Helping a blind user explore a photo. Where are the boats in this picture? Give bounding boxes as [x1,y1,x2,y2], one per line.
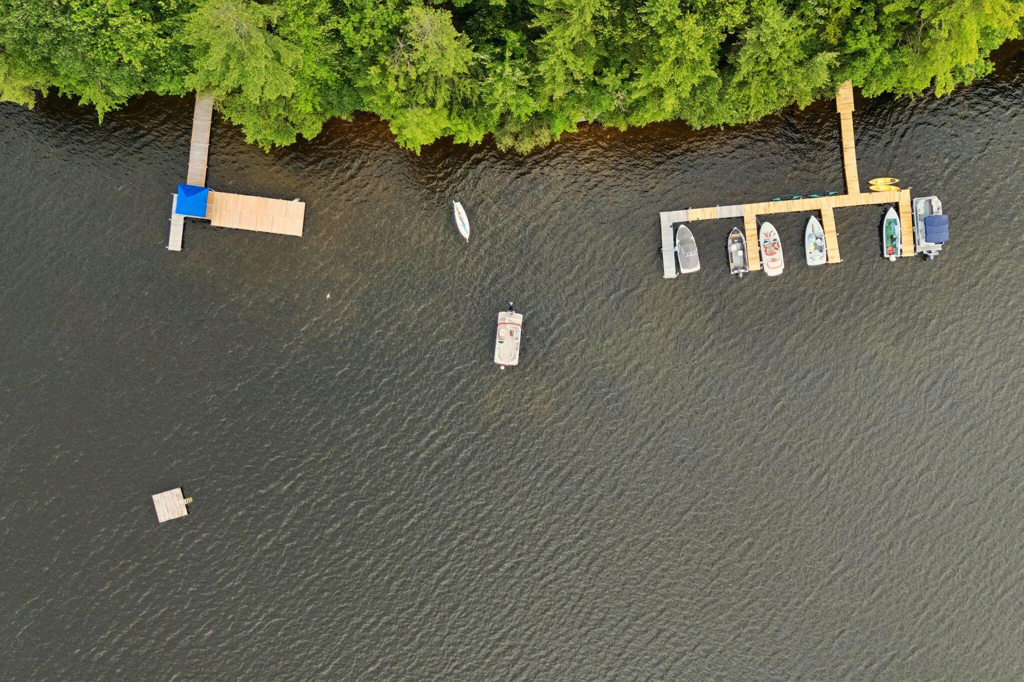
[728,227,748,277]
[676,224,701,274]
[881,207,901,263]
[808,191,838,197]
[494,305,523,365]
[453,200,470,239]
[869,186,901,192]
[758,221,786,276]
[910,196,948,256]
[772,195,802,201]
[803,215,827,266]
[867,178,900,185]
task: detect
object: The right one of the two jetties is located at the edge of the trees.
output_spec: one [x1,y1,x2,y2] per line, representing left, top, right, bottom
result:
[658,82,916,278]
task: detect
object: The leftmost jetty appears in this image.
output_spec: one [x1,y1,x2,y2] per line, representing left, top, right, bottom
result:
[166,94,307,251]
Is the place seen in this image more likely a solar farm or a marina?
marina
